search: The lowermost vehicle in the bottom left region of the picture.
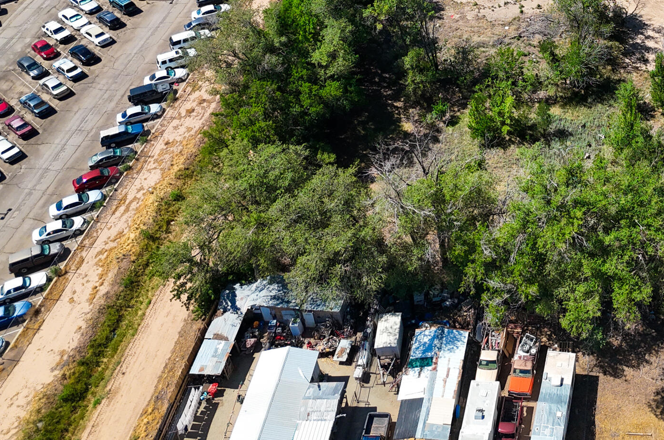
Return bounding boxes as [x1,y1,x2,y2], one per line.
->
[0,329,28,356]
